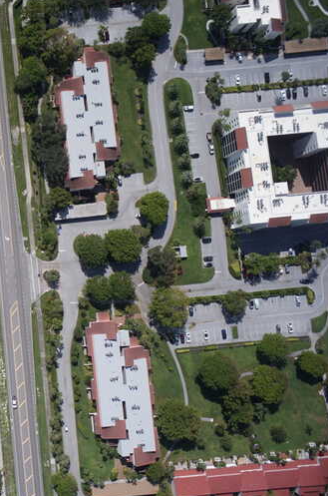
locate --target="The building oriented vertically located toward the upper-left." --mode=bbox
[51,47,121,192]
